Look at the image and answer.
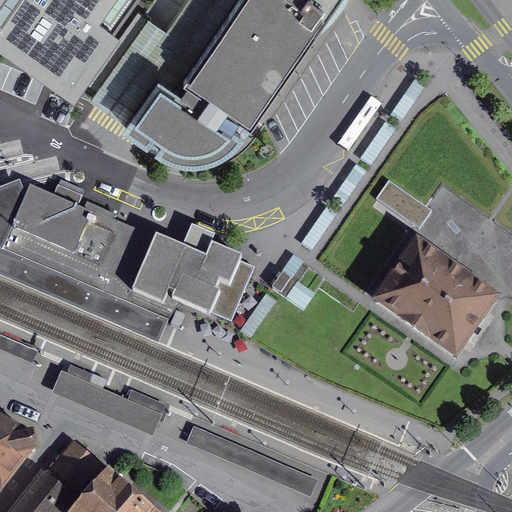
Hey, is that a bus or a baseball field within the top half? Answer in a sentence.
Looking within the top half, you will find a bus.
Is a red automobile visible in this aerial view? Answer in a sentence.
No, the photo shows no red automobile.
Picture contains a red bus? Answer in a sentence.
No, no red bus is visible in the scene.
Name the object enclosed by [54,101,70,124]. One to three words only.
car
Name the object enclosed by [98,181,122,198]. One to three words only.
car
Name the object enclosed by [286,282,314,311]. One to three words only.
house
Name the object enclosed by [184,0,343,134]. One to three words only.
building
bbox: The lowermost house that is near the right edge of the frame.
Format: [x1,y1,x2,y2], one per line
[372,234,501,358]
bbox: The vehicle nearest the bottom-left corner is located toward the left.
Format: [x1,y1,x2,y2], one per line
[10,402,40,422]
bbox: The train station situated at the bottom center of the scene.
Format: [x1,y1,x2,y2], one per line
[0,276,438,489]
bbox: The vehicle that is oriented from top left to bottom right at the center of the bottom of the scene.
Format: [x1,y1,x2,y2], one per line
[198,486,221,506]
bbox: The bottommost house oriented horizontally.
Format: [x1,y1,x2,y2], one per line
[66,465,164,512]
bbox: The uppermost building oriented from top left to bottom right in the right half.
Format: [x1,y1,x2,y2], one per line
[376,181,432,230]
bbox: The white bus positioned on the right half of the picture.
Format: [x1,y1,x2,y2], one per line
[338,94,384,152]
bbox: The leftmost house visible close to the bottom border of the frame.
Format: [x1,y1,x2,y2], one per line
[0,408,38,492]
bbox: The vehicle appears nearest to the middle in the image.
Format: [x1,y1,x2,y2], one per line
[200,212,226,230]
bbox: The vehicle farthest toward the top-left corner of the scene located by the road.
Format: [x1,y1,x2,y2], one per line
[15,74,30,98]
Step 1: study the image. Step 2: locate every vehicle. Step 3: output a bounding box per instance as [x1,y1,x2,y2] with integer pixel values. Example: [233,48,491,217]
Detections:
[10,402,40,422]
[338,94,384,152]
[54,101,70,124]
[267,118,283,140]
[15,74,30,98]
[44,96,60,119]
[98,181,122,198]
[200,212,226,230]
[198,486,221,506]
